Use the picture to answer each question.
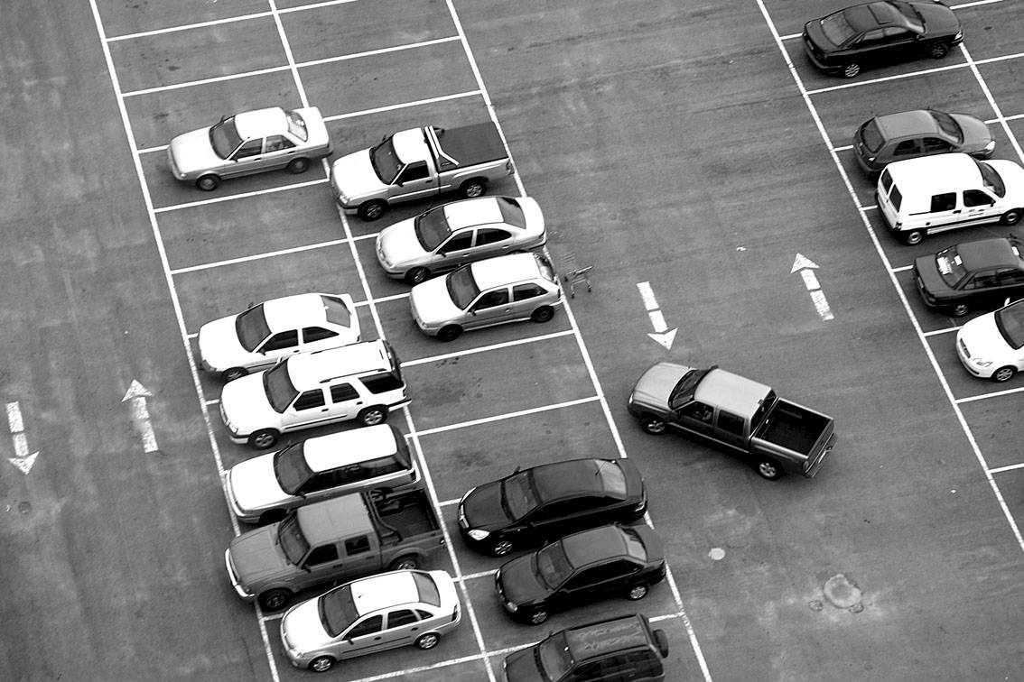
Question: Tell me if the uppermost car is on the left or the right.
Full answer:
It is on the right.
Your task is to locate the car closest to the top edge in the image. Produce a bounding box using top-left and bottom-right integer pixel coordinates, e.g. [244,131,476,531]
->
[802,0,964,77]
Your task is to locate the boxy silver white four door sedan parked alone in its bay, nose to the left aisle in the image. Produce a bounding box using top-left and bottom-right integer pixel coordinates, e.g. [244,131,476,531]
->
[165,106,331,191]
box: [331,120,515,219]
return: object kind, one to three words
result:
truck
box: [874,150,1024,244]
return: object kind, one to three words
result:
van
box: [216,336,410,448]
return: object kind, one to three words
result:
vehicle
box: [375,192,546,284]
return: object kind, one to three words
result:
car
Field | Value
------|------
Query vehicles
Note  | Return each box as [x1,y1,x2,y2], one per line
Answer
[223,482,449,609]
[628,363,838,485]
[277,565,461,670]
[197,290,364,381]
[408,251,563,341]
[456,450,647,558]
[498,610,673,682]
[957,299,1024,381]
[375,192,546,284]
[802,0,964,77]
[874,150,1024,244]
[216,336,410,448]
[165,106,331,191]
[494,520,668,624]
[226,423,420,525]
[912,229,1024,318]
[857,103,998,178]
[331,120,515,219]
